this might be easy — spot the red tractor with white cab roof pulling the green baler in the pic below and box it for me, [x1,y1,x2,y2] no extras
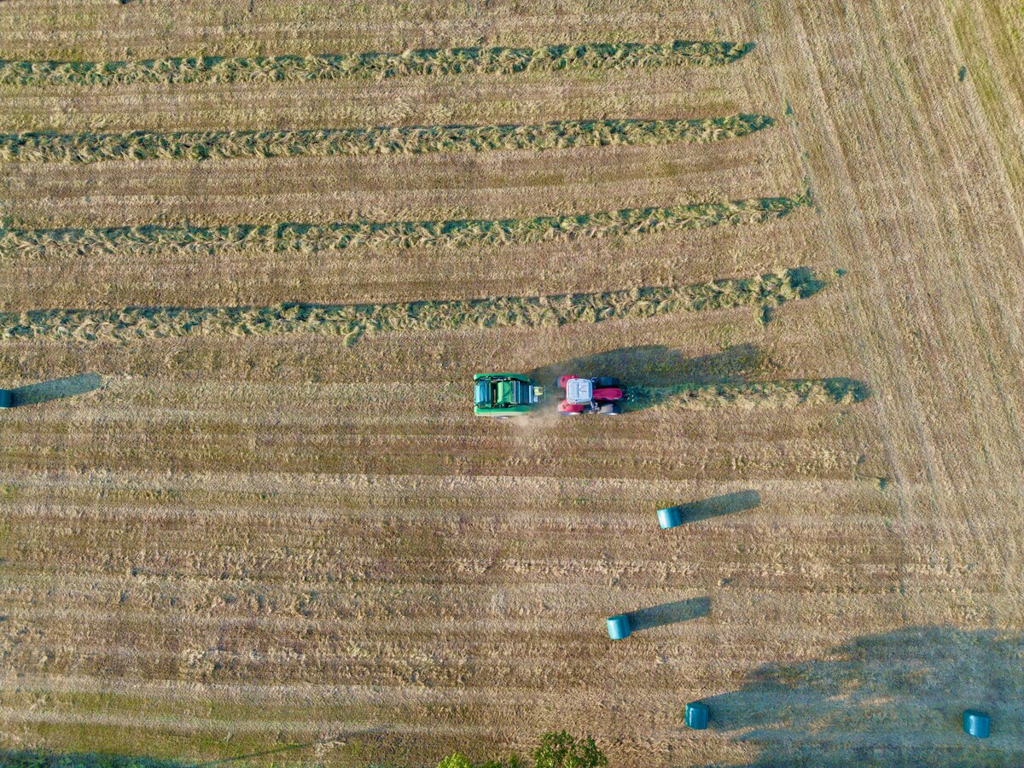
[554,372,626,416]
